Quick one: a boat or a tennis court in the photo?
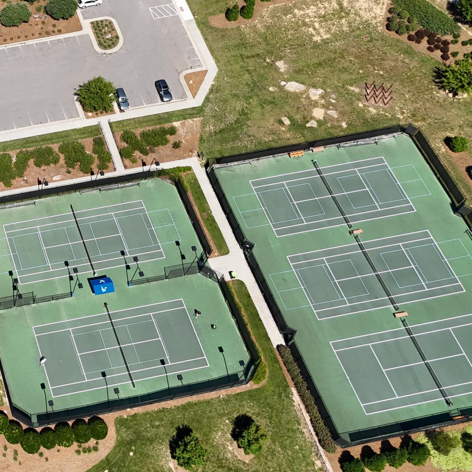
tennis court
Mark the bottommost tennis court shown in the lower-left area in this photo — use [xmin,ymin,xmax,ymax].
[0,273,251,415]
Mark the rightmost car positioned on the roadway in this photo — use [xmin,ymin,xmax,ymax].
[155,77,173,102]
